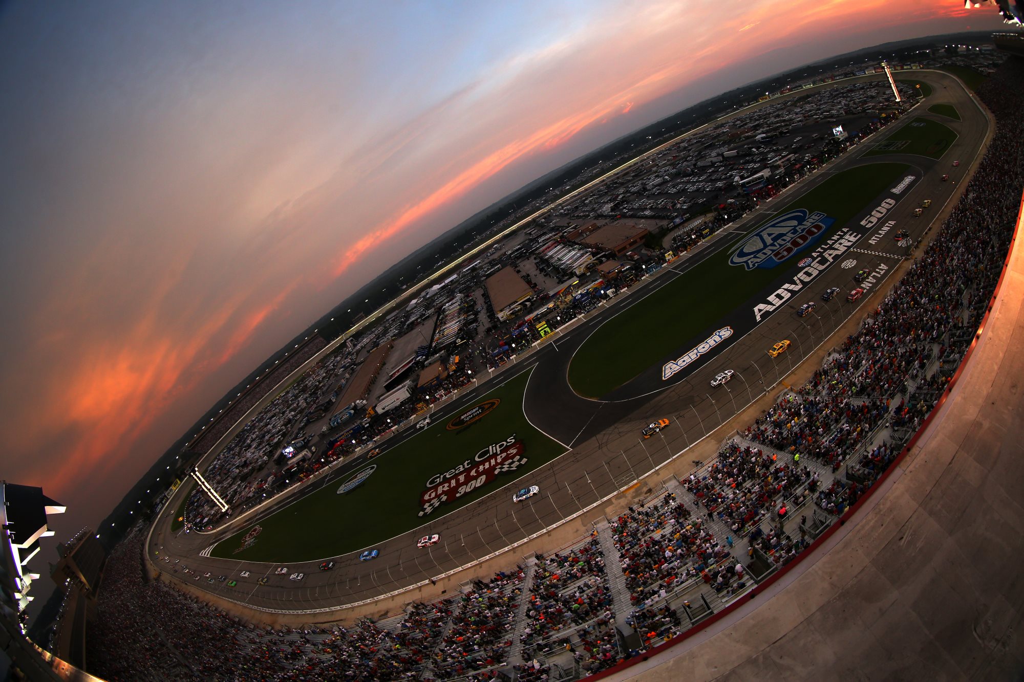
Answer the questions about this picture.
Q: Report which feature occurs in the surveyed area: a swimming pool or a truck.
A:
truck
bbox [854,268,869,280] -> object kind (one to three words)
vehicle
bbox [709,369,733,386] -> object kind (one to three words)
car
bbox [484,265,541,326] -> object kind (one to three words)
building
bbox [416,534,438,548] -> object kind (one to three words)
car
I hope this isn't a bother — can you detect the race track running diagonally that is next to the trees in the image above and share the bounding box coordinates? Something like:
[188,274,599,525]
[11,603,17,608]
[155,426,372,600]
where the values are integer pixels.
[145,70,987,610]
